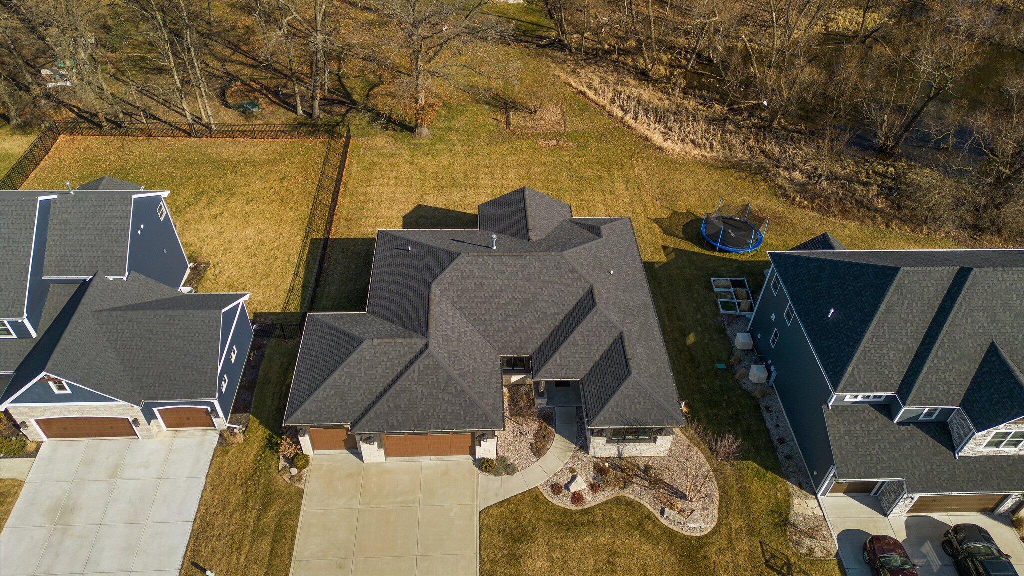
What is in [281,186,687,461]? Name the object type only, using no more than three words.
house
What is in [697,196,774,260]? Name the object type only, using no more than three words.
trampoline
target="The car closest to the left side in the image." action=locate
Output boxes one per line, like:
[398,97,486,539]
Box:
[864,534,924,576]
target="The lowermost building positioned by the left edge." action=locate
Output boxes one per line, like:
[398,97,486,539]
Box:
[0,174,254,441]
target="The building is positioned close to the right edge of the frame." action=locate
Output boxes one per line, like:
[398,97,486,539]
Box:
[749,233,1024,515]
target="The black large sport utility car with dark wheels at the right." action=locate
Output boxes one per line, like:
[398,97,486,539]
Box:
[946,525,1020,576]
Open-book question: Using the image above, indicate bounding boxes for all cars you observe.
[864,534,924,576]
[946,525,1020,576]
